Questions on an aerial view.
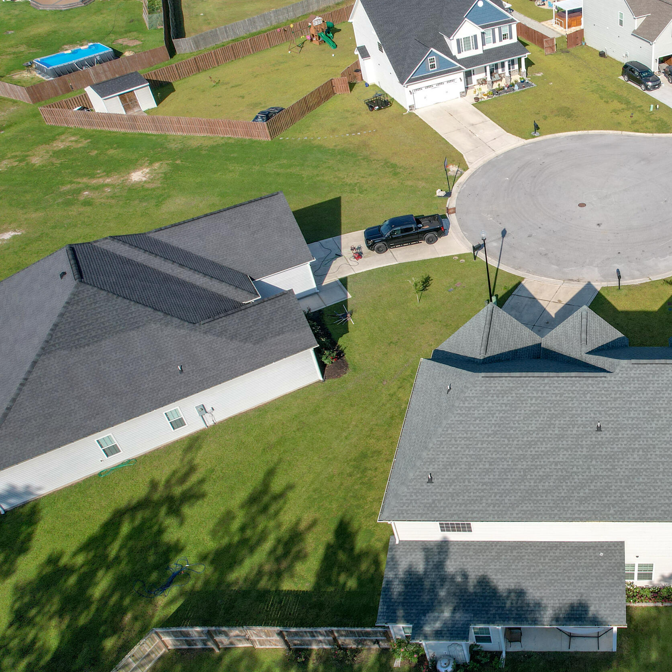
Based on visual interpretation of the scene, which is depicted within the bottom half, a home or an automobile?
home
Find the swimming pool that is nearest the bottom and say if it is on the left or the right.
left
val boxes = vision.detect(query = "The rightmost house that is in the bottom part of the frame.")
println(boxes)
[373,301,672,666]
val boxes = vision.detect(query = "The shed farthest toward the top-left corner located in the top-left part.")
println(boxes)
[85,65,157,112]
